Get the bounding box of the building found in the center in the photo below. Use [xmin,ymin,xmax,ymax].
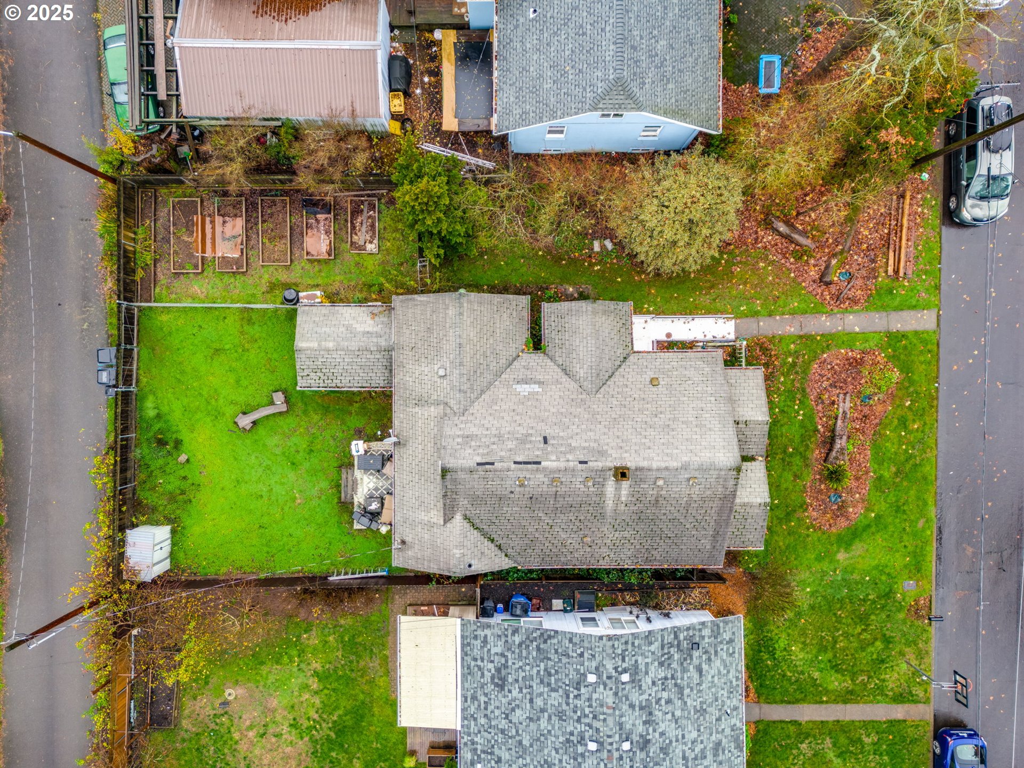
[292,287,775,577]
